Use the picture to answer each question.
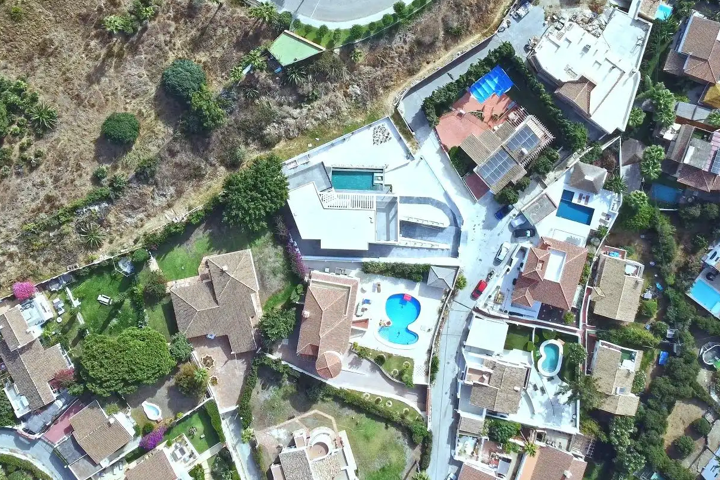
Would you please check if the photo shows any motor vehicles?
Yes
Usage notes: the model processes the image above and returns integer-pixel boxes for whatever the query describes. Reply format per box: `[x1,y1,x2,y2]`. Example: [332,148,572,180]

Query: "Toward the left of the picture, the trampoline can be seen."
[116,256,135,274]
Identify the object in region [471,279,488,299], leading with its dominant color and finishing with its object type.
red car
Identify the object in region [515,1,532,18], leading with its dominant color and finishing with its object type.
white vehicle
